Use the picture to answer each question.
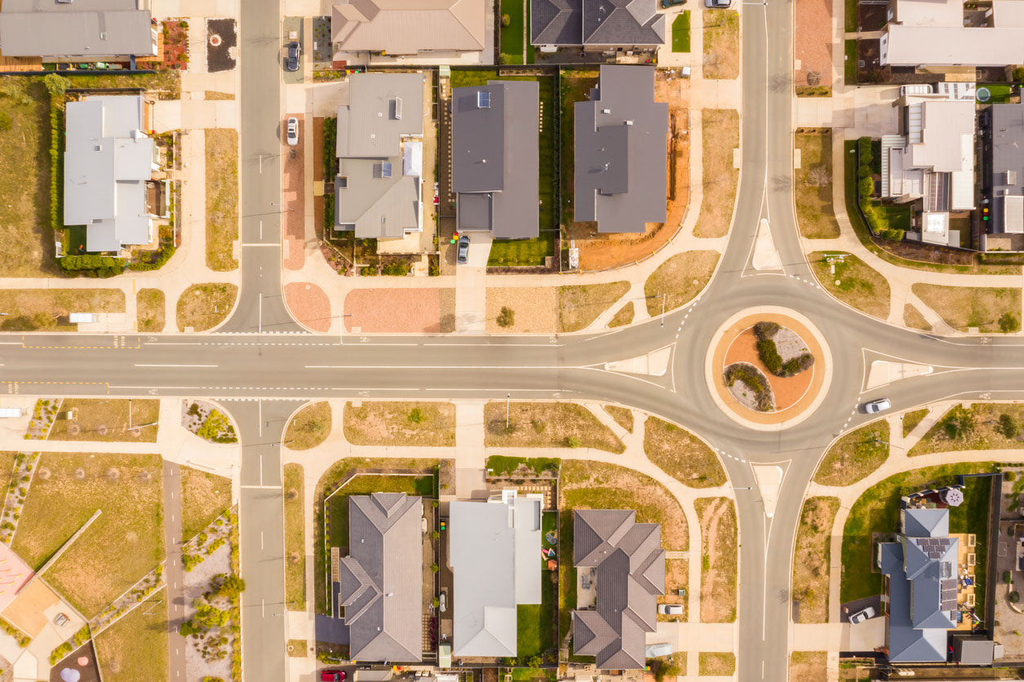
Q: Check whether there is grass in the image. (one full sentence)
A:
Yes, grass can be seen from above here.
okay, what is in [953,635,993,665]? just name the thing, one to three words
shed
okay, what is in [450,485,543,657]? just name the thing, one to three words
house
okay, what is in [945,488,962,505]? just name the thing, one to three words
umbrella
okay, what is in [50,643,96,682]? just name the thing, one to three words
playground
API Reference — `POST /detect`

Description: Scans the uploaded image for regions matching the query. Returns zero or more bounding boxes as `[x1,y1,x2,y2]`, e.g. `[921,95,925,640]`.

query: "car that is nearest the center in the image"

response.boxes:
[456,236,469,264]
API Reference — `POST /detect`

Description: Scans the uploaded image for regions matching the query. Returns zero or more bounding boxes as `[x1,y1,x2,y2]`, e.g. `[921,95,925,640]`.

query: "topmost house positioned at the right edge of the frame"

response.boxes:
[871,0,1024,74]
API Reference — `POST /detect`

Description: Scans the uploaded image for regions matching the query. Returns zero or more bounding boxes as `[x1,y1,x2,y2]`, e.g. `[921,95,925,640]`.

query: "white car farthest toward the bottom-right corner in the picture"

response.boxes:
[847,606,875,625]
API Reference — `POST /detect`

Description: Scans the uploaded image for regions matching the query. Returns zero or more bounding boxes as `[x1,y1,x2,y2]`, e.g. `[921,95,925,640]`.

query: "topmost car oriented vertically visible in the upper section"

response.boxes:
[287,40,301,71]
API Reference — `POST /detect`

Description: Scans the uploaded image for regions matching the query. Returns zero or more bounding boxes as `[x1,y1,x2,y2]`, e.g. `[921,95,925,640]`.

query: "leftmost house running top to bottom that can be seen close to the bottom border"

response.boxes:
[340,492,422,662]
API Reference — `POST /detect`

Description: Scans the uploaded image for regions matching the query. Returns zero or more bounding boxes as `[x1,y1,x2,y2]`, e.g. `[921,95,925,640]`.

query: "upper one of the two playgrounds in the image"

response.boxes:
[0,544,32,605]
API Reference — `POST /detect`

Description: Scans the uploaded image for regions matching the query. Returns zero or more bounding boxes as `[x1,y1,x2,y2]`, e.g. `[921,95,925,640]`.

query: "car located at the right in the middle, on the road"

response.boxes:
[863,399,892,414]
